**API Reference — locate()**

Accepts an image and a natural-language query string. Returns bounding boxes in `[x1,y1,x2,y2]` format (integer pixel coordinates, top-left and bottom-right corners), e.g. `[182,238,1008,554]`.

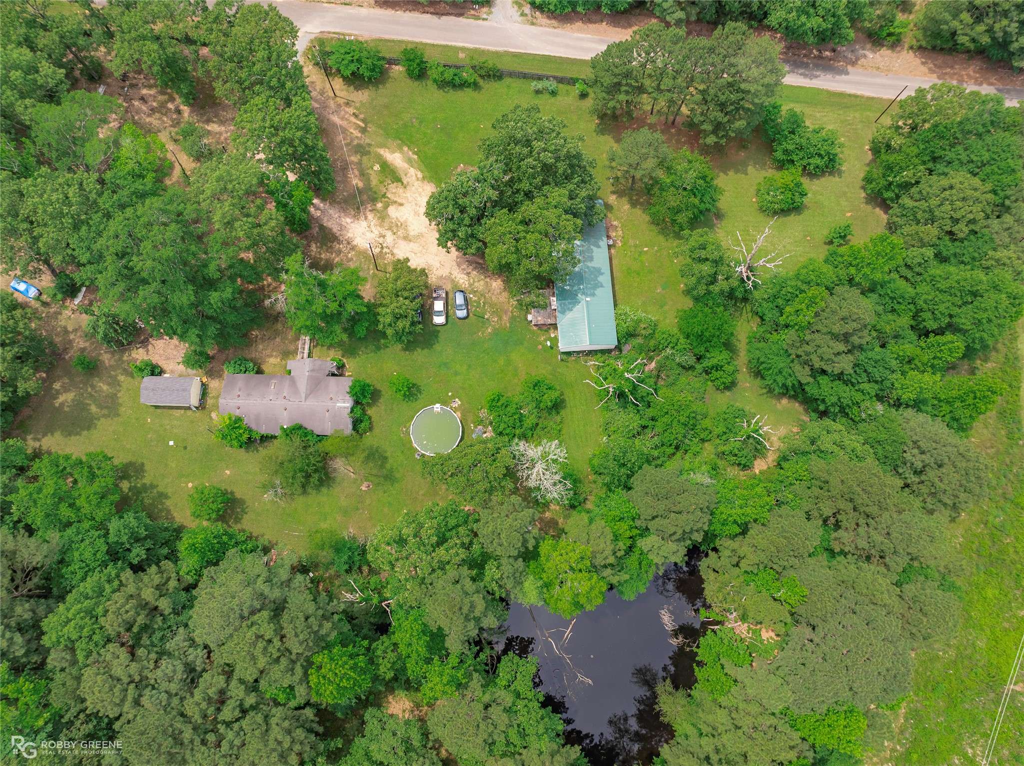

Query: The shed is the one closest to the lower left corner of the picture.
[140,376,201,407]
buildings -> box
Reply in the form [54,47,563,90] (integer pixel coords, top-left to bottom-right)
[220,359,355,435]
[553,200,618,350]
[140,376,201,407]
